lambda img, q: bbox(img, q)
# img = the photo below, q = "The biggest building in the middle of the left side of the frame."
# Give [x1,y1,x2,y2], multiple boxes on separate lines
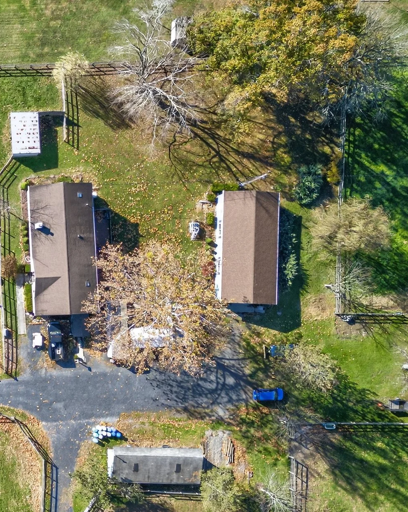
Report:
[18,182,108,316]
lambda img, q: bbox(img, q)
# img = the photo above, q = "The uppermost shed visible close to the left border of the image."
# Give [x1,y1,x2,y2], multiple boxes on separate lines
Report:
[9,111,40,156]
